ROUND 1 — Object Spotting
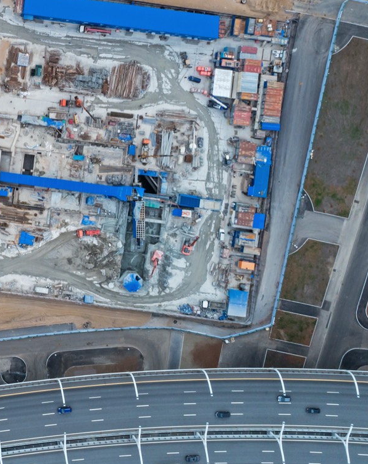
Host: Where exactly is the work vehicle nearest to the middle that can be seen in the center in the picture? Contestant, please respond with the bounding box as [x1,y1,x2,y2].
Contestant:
[179,235,204,258]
